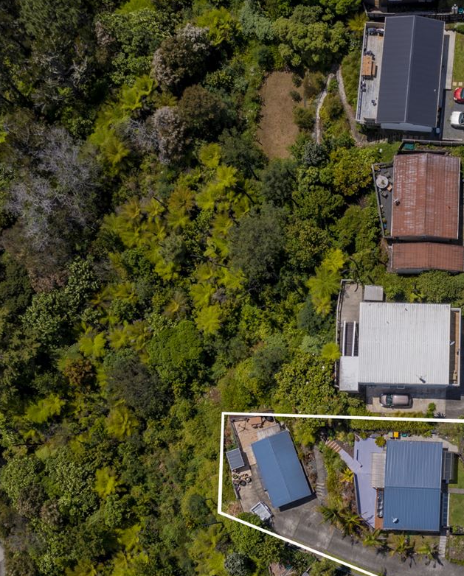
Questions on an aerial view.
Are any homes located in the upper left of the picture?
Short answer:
No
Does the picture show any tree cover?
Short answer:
Yes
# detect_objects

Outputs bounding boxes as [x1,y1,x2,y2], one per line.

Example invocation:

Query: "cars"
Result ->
[449,109,464,129]
[453,88,464,104]
[380,391,413,409]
